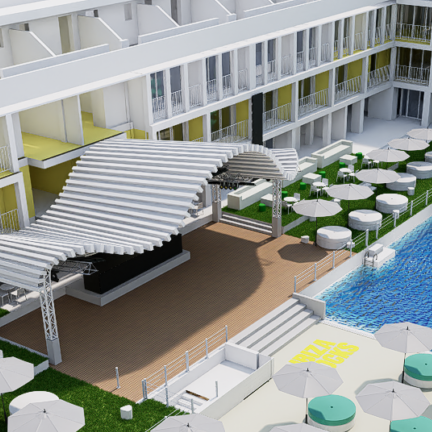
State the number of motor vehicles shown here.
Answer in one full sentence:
The photo contains no motor vehicles.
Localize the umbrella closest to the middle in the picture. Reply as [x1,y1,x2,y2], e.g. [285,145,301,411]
[292,201,343,247]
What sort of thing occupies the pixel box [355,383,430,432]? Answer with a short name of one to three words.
umbrella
